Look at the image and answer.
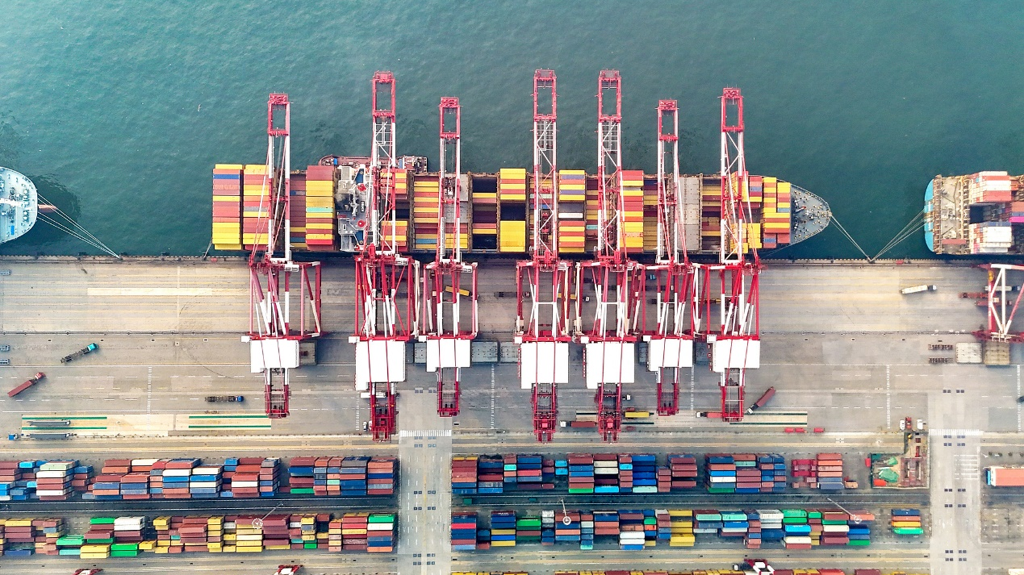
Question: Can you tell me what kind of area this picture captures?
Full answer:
What you see here is a port.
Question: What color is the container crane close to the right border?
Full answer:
The container crane close to the right border looks white in the image.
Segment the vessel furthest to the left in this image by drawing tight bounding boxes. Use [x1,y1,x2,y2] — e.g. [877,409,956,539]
[0,167,57,244]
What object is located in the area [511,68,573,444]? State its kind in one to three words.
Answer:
container crane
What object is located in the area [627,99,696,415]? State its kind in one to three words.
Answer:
container crane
